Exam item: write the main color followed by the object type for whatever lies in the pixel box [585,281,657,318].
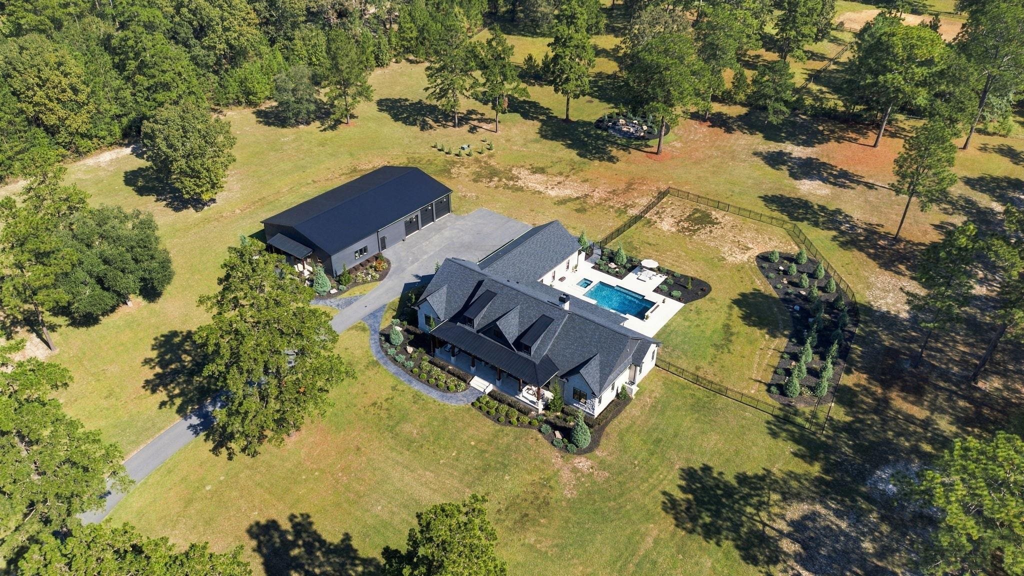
blue swimming pool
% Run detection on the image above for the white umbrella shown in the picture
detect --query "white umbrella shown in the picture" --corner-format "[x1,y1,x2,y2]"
[641,259,659,279]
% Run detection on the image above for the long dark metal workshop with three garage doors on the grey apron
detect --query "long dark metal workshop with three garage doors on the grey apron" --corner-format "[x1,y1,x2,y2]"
[261,166,453,277]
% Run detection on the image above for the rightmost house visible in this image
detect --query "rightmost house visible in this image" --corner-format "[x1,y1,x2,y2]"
[410,220,663,416]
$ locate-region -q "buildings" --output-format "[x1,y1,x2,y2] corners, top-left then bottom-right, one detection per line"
[410,220,663,416]
[261,166,453,277]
